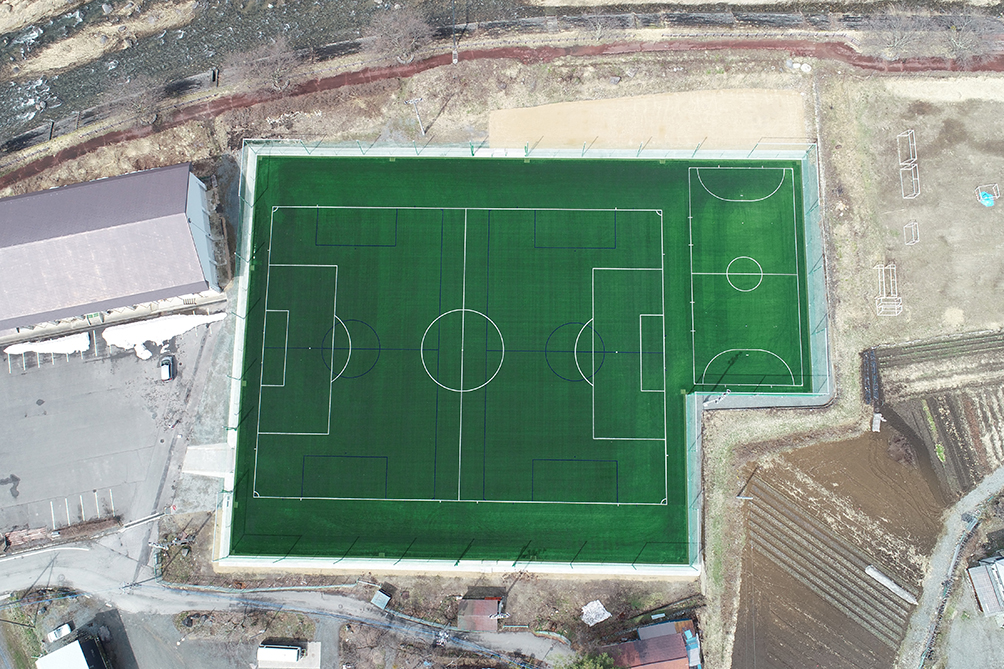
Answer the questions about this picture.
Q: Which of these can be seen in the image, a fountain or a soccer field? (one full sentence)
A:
I can see a soccer field in this picture.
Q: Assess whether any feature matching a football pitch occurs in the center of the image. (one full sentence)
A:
Yes, a football pitch shows up in the center of the image.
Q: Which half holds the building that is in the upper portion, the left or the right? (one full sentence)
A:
The building that is in the upper portion sits on the left side.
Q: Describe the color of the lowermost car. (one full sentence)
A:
In this view, the lowermost car is white.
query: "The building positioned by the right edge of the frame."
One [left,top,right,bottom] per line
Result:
[959,549,1004,615]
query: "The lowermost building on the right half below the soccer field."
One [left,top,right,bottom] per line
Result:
[593,617,703,669]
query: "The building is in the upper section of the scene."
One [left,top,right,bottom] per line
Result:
[0,160,223,330]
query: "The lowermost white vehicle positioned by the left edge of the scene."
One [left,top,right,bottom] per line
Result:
[48,623,74,643]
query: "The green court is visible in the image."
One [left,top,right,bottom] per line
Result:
[674,160,812,391]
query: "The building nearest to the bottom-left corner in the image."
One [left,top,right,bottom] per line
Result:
[36,630,123,669]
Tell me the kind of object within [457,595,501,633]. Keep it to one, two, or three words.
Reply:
shed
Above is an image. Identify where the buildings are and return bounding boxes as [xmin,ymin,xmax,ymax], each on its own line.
[457,595,501,633]
[0,160,223,330]
[593,617,703,669]
[36,630,123,669]
[372,589,392,609]
[959,549,1004,615]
